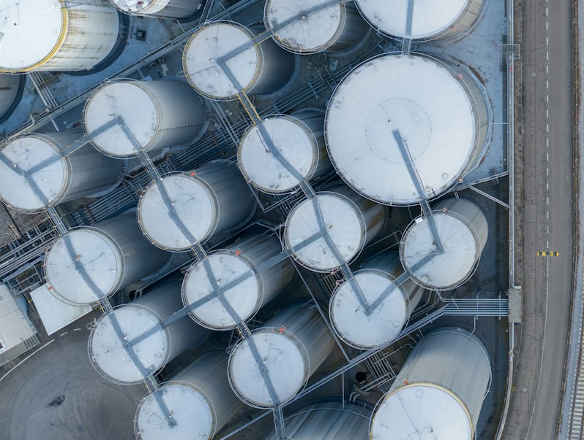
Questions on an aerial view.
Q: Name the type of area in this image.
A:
industrial area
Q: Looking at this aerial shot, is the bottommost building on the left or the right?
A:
left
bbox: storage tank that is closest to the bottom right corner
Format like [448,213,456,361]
[366,320,501,440]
